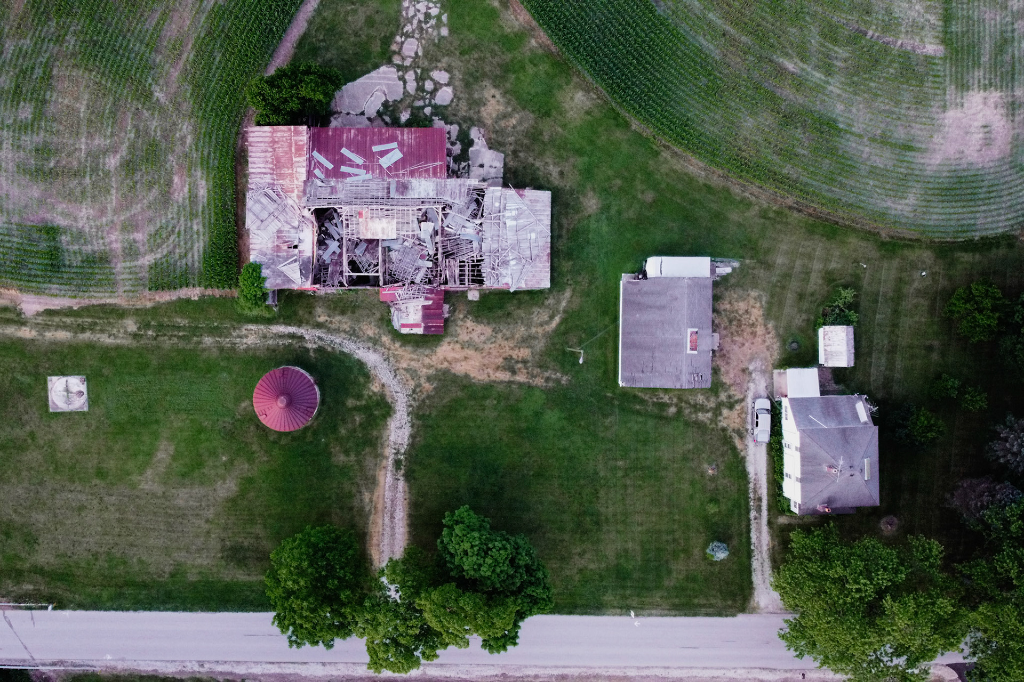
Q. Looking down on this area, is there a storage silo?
Yes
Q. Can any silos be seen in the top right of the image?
No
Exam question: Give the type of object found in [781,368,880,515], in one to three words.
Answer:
house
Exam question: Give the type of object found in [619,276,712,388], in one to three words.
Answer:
building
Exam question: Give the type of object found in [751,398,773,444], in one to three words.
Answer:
truck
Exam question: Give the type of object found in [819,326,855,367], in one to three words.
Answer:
shed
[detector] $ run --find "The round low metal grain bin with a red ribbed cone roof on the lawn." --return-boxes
[253,365,323,432]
